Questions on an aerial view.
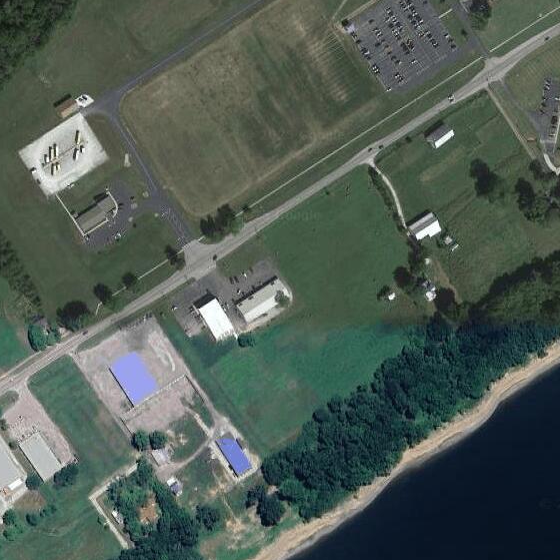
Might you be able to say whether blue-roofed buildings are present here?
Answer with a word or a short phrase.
Yes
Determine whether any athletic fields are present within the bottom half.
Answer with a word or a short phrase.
No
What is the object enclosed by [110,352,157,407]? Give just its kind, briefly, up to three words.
building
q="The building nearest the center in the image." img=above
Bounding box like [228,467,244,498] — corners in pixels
[237,279,284,323]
